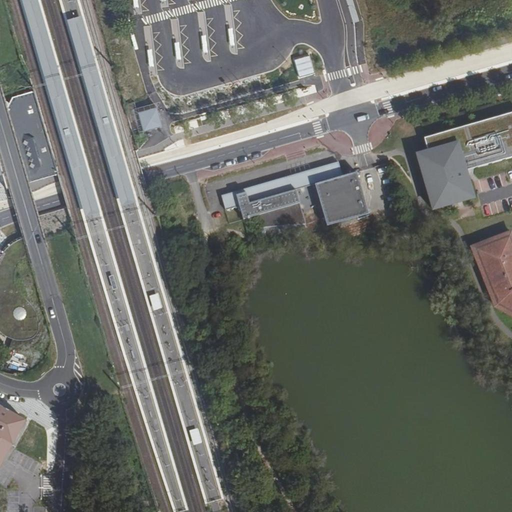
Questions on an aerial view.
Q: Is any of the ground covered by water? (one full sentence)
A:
Yes, there's water in this view.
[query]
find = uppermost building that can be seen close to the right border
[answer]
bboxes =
[424,112,512,170]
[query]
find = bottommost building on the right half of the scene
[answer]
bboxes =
[470,229,512,316]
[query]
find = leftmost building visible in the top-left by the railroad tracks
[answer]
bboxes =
[8,92,56,182]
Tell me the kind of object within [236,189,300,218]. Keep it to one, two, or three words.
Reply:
building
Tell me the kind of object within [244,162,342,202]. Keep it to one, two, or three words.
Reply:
building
